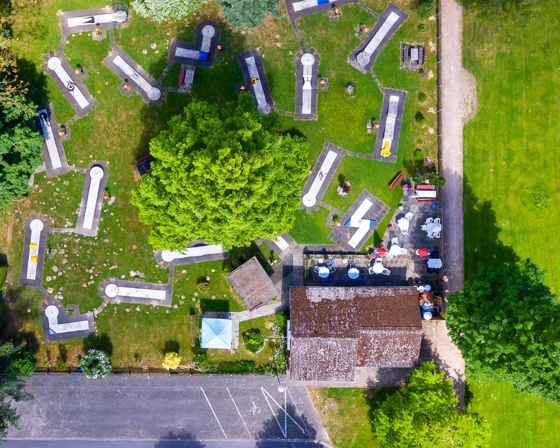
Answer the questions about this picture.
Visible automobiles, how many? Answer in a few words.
0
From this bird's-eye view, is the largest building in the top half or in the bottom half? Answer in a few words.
bottom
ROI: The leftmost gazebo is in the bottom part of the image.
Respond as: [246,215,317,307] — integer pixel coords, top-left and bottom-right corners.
[201,313,232,349]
